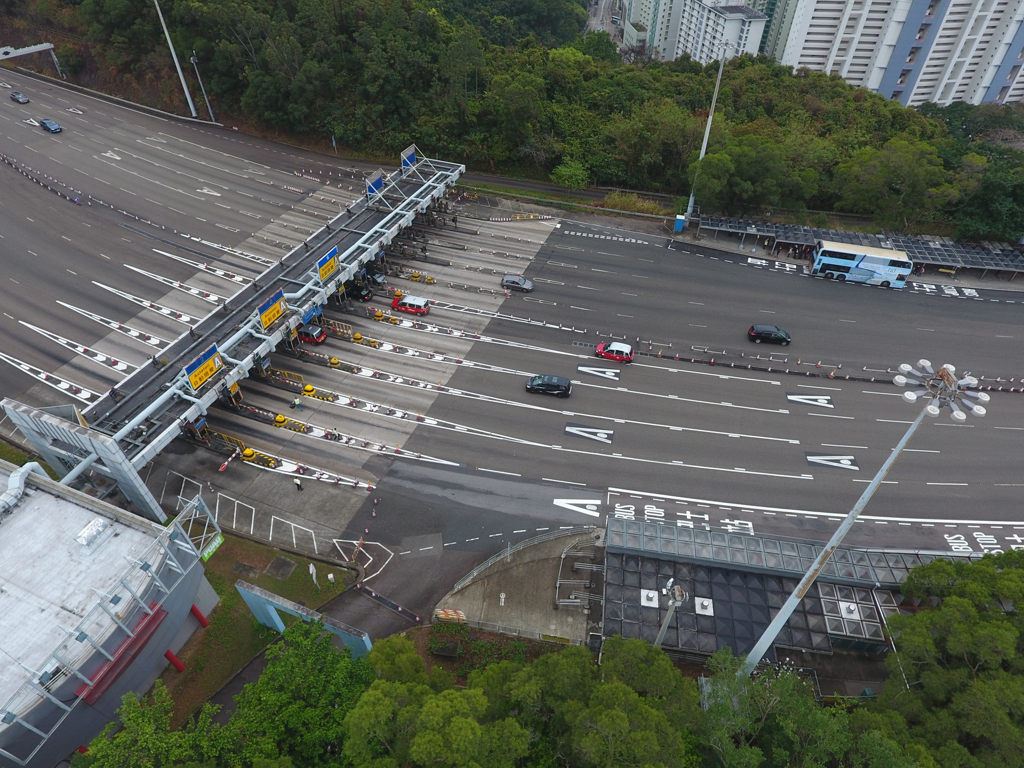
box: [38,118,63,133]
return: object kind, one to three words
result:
car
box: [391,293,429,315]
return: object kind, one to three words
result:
car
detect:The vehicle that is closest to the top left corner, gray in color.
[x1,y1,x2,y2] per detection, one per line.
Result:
[7,91,31,105]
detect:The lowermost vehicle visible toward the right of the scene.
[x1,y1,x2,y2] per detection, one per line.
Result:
[597,341,636,364]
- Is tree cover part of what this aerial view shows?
Yes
